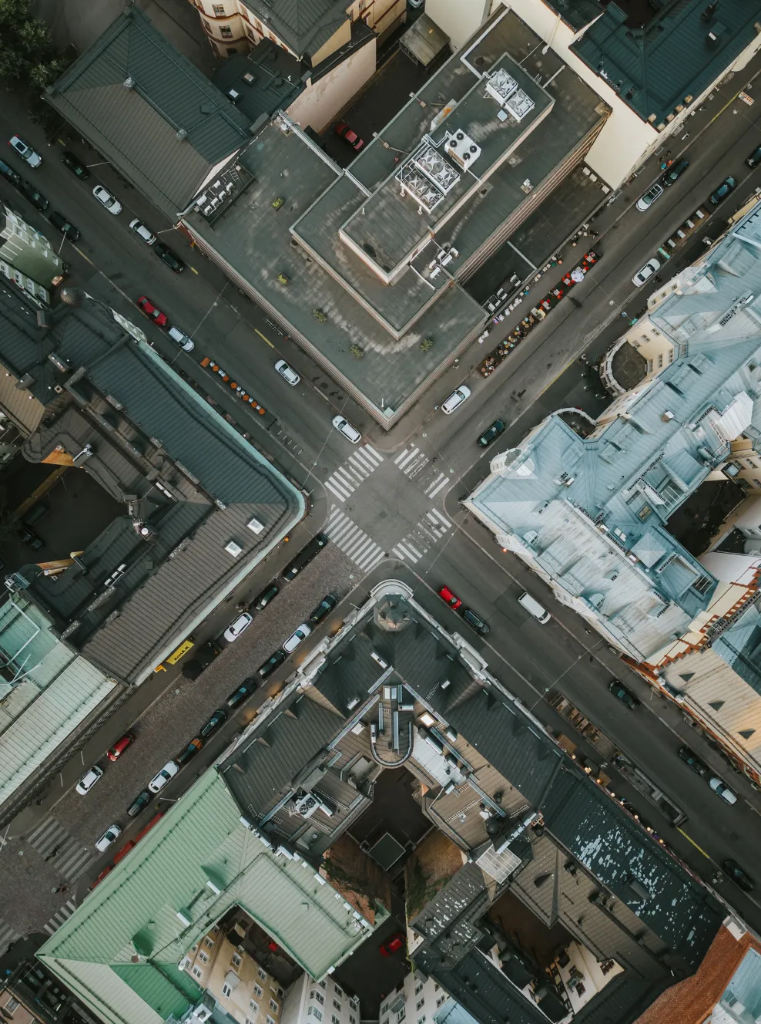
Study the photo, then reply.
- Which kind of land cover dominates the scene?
buildings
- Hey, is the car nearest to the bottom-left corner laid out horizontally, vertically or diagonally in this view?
diagonally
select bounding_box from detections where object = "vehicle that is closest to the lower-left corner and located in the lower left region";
[90,820,126,856]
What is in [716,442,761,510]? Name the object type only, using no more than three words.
house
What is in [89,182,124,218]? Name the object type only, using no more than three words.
car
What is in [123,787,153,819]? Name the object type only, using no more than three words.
truck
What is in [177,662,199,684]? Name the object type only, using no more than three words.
umbrella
